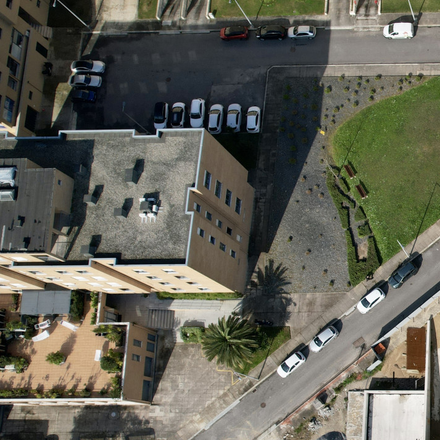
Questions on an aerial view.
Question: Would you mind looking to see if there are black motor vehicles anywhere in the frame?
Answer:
Yes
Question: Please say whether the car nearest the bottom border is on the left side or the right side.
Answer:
right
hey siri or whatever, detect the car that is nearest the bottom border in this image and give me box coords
[277,350,308,379]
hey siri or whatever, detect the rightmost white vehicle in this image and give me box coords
[384,21,415,39]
